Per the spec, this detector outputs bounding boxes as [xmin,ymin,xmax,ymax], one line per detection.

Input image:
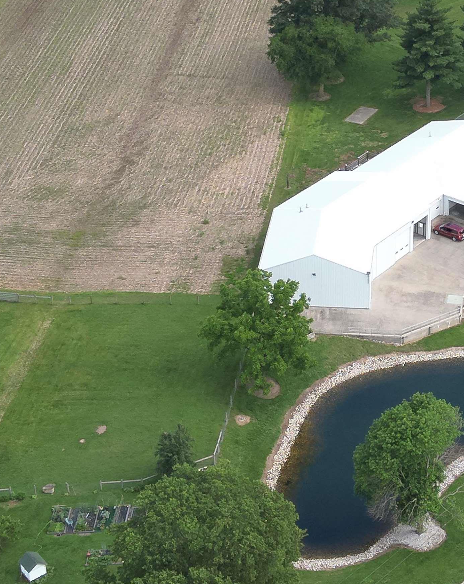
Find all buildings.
[19,550,47,580]
[257,118,464,309]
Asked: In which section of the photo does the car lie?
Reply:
right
